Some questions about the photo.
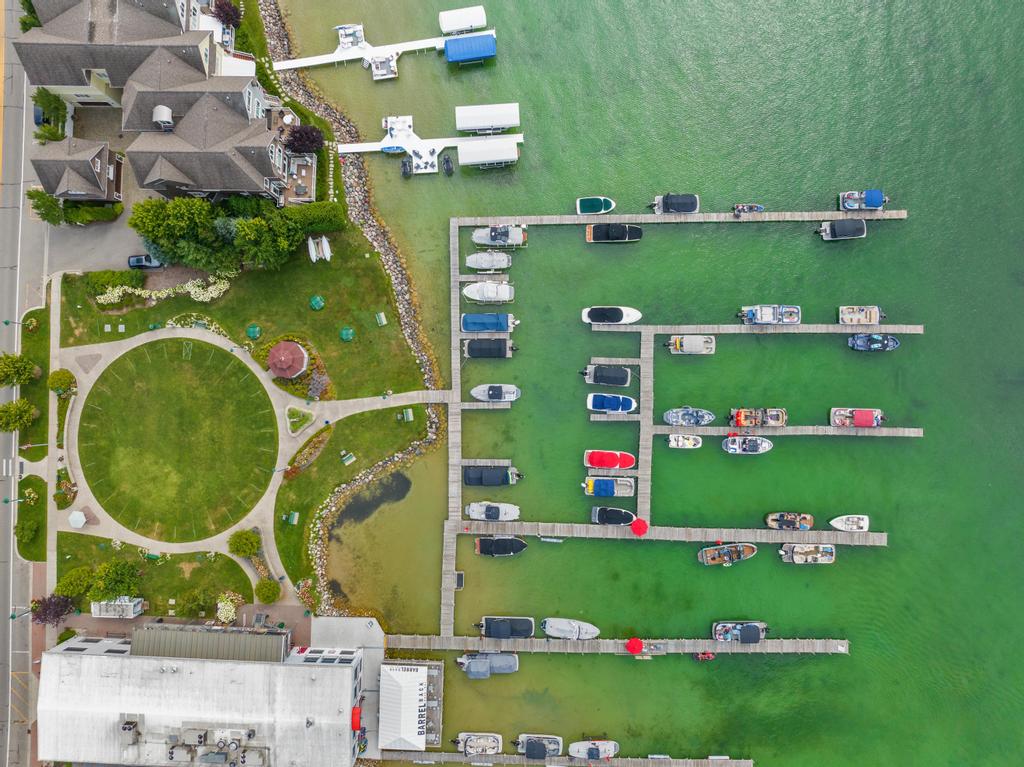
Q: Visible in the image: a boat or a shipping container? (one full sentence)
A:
Visible in the photo is a boat.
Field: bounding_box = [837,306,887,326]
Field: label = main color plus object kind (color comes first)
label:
white boat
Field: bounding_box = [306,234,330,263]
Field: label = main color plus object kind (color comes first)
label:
white boat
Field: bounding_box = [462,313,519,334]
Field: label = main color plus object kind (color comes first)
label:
blue boat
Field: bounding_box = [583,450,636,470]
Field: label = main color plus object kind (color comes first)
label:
red boat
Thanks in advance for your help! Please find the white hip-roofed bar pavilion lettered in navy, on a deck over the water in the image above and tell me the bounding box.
[379,660,443,752]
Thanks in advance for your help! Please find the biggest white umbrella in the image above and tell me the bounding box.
[70,510,91,528]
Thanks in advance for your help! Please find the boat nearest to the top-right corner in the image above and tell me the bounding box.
[838,190,891,212]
